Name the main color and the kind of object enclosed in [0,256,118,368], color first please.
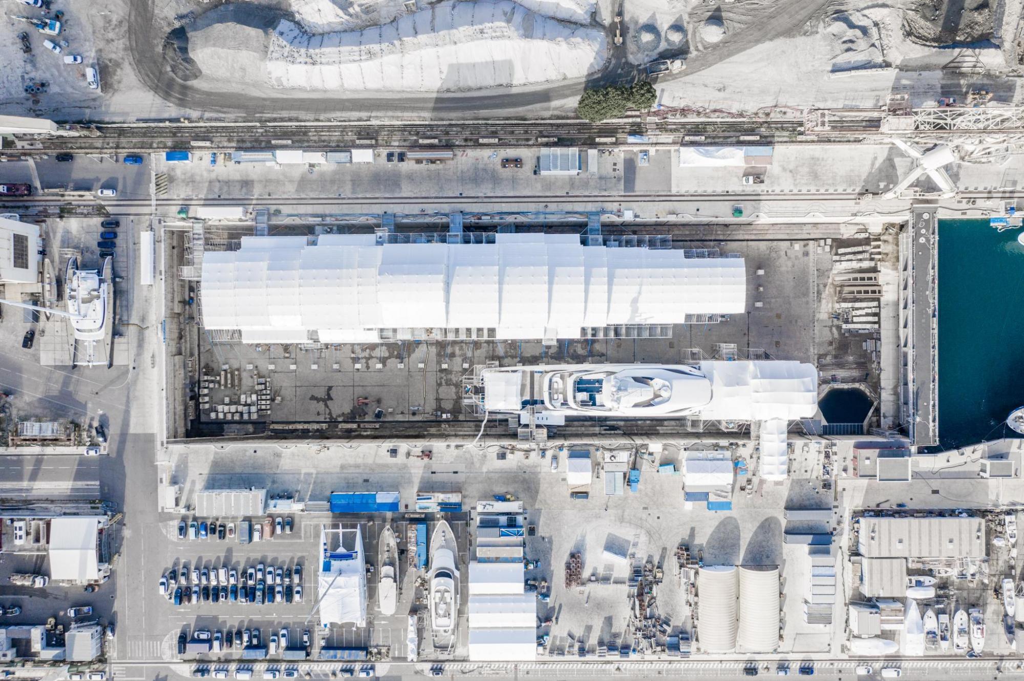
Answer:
white boat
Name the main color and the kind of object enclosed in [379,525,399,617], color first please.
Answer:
white boat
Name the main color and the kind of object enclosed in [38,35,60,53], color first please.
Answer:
white vehicle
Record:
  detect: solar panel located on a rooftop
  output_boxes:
[13,233,29,268]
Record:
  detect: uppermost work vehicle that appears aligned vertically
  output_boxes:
[612,6,624,48]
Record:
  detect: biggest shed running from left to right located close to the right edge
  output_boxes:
[854,513,986,558]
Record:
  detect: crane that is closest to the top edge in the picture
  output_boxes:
[868,124,1024,201]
